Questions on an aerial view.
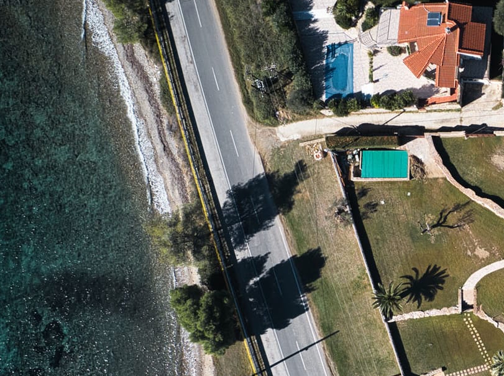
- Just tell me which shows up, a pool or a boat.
pool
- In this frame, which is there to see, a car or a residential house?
residential house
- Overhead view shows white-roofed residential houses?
No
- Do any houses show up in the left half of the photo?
No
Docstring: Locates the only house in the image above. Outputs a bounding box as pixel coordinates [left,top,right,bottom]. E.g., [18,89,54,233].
[398,2,485,106]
